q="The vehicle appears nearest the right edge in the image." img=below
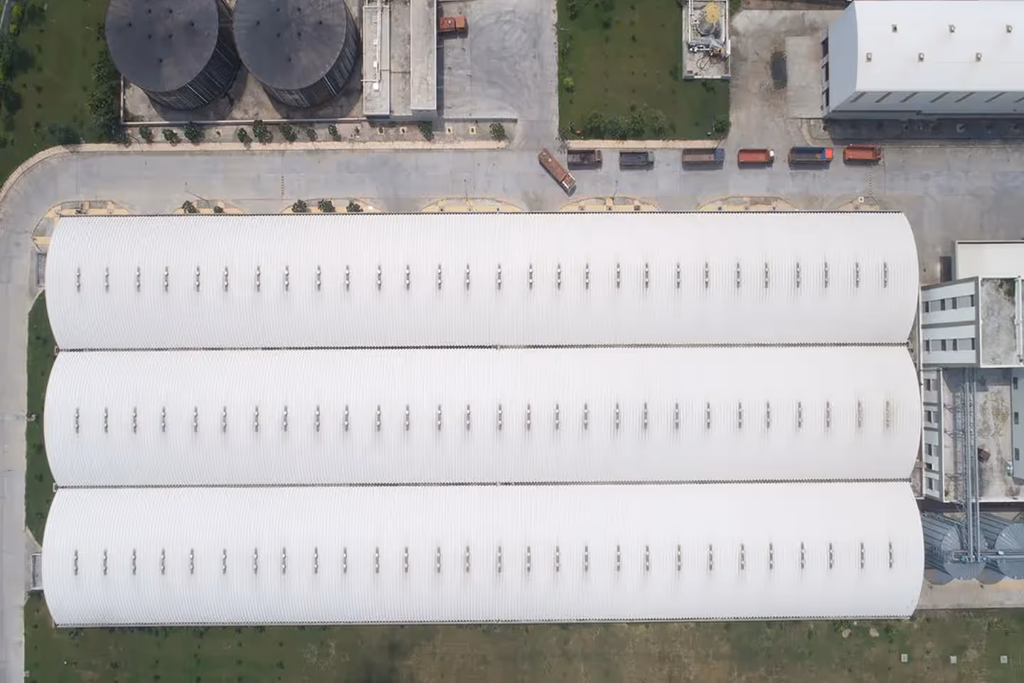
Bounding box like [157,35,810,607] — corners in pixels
[841,146,882,163]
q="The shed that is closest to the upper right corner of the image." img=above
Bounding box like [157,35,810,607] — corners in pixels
[823,1,1024,120]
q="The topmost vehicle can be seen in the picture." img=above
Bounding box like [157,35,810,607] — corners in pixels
[437,17,468,37]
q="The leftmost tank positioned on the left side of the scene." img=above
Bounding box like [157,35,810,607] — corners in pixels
[104,0,241,112]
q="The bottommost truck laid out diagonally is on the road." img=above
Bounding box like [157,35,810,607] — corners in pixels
[536,148,578,198]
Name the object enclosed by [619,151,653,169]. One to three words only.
vehicle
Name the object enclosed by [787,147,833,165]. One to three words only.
vehicle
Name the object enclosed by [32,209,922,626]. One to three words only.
warehouse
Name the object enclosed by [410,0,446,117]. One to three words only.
building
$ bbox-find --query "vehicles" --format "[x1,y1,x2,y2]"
[536,148,578,198]
[736,148,774,166]
[787,147,833,165]
[681,148,724,166]
[437,17,468,37]
[619,151,653,169]
[841,146,882,163]
[567,150,602,168]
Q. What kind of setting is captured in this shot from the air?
industrial area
